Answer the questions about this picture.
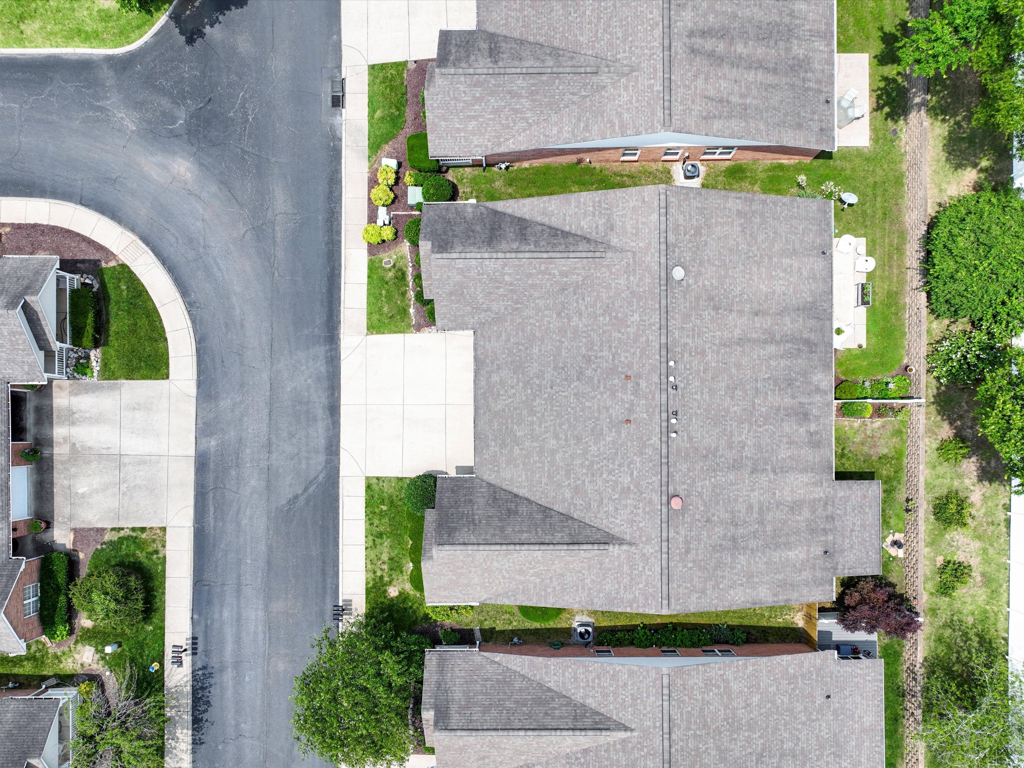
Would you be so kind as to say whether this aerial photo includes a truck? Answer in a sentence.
No, there isn't any truck down there.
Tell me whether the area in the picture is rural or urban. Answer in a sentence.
The area is urban.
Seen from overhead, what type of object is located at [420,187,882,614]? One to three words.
house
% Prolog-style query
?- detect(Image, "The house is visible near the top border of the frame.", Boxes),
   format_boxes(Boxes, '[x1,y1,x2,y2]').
[423,0,838,175]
